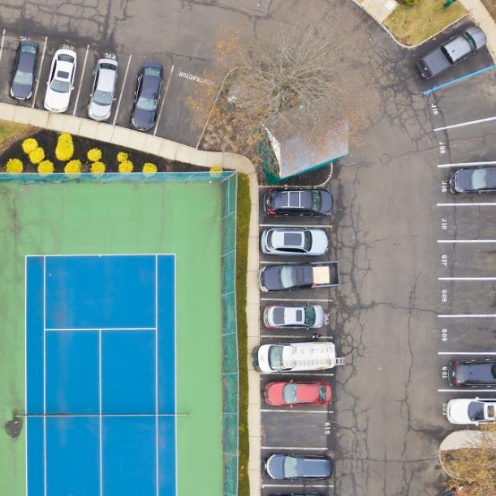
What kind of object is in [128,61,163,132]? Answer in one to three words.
car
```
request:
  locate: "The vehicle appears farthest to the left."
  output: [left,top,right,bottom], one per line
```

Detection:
[7,38,39,103]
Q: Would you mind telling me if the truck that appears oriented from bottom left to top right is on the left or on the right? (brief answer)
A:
right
